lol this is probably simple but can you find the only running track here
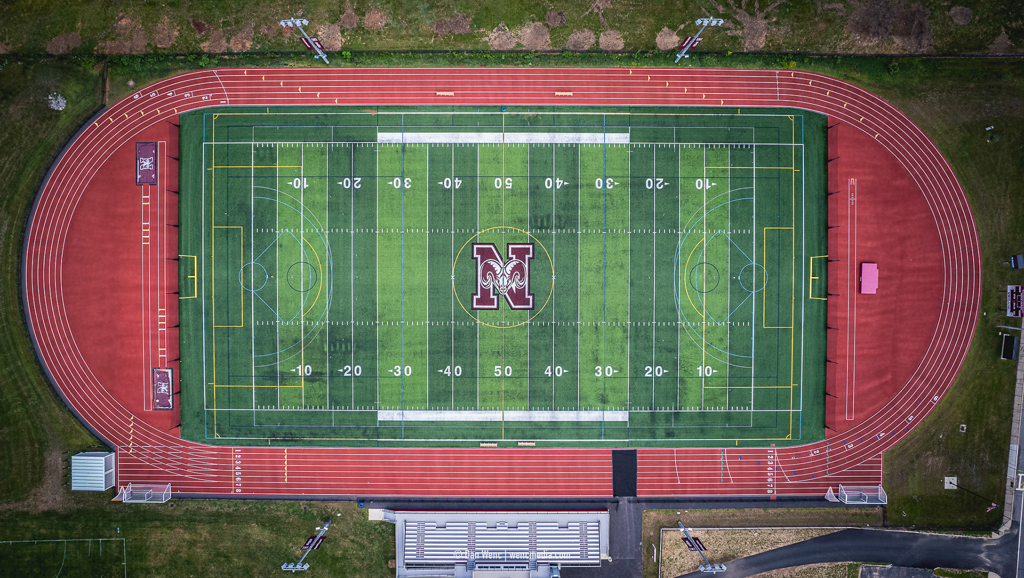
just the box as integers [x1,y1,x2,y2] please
[25,67,981,498]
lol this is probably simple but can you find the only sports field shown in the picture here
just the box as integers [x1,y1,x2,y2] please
[179,106,828,447]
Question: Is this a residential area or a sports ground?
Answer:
sports ground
